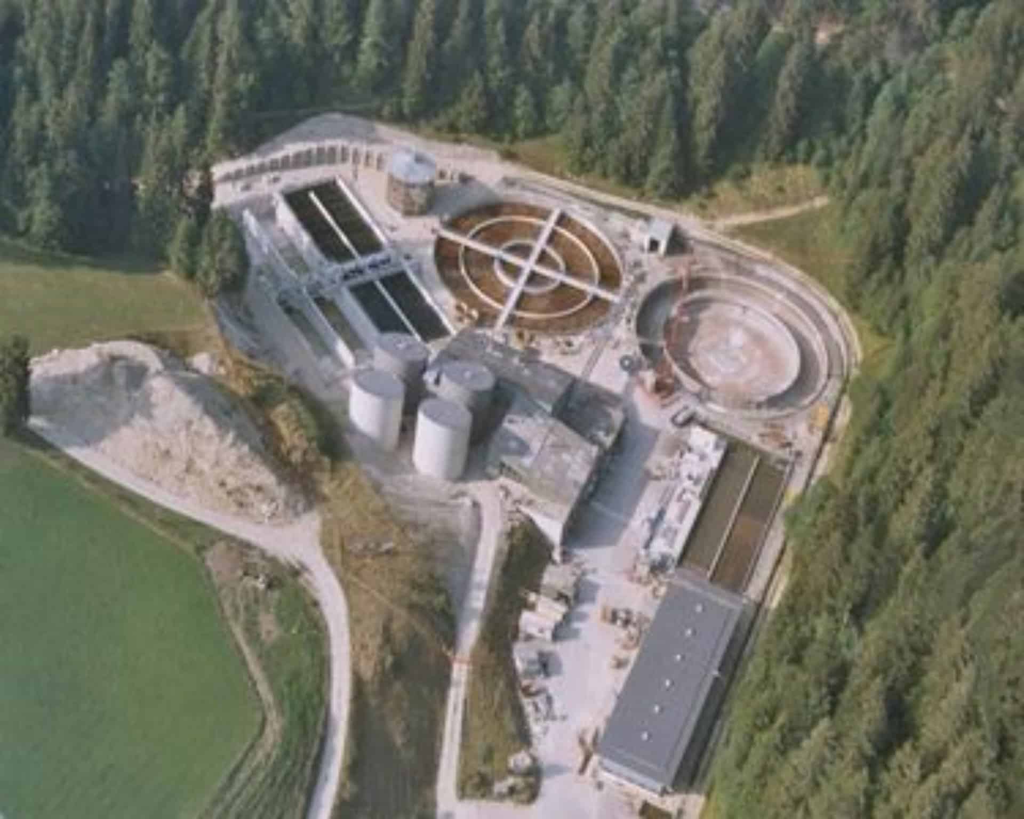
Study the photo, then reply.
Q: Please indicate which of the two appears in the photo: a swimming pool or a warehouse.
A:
warehouse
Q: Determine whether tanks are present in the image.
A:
Yes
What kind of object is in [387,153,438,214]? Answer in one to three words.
storage tank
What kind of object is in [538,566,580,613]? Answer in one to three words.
shed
